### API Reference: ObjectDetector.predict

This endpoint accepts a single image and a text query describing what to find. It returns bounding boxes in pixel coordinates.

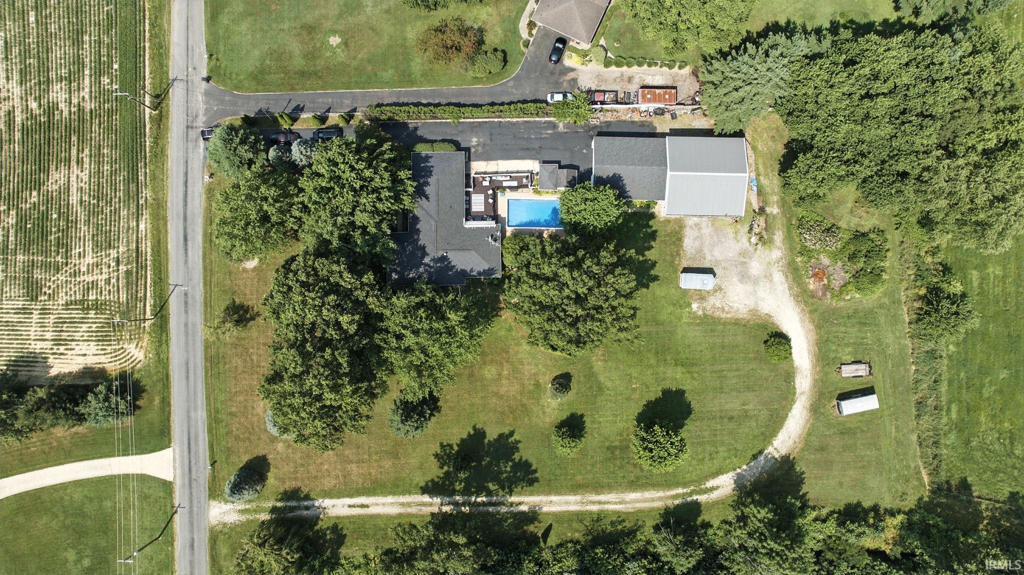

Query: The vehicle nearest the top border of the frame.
[549,36,566,66]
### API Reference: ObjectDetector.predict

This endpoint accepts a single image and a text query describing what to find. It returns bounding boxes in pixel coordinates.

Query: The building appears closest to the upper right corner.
[663,136,750,217]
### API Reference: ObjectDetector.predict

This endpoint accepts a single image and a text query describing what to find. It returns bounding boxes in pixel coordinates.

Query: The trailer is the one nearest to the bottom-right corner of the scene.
[832,393,879,414]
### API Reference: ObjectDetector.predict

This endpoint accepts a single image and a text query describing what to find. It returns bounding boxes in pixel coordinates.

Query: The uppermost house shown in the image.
[531,0,609,46]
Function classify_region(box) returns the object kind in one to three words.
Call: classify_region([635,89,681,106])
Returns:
trailer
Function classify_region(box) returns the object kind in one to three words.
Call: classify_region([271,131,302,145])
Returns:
car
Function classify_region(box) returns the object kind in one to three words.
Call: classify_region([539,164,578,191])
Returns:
shed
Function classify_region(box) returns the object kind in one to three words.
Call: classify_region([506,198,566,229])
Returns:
swimming pool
